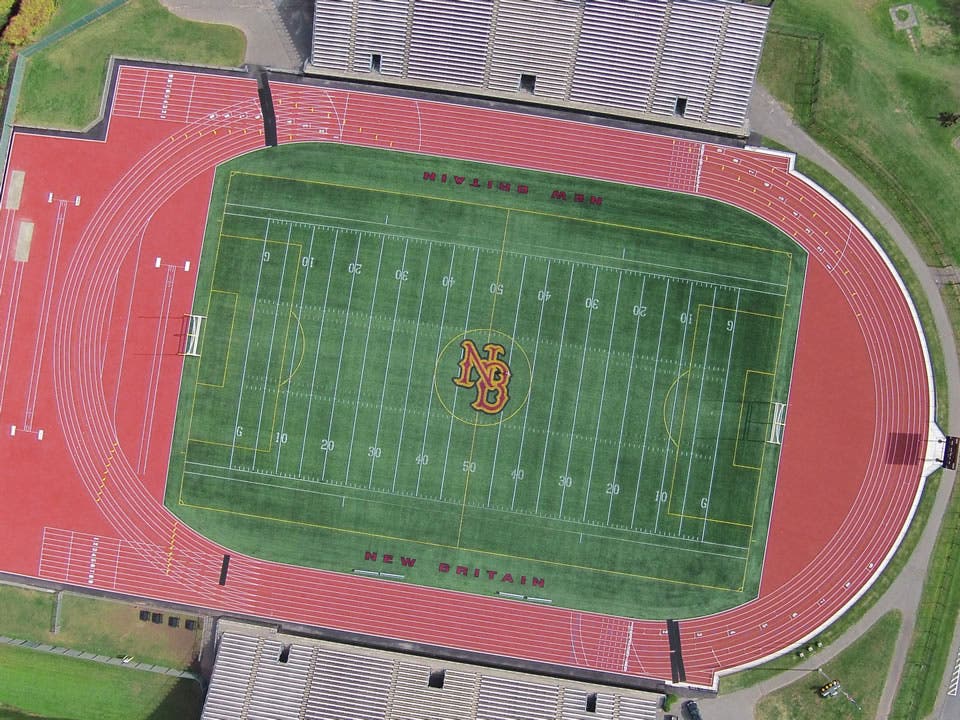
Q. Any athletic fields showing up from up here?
Yes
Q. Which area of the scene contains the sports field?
center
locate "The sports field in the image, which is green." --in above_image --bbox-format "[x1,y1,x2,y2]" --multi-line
[163,140,809,622]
